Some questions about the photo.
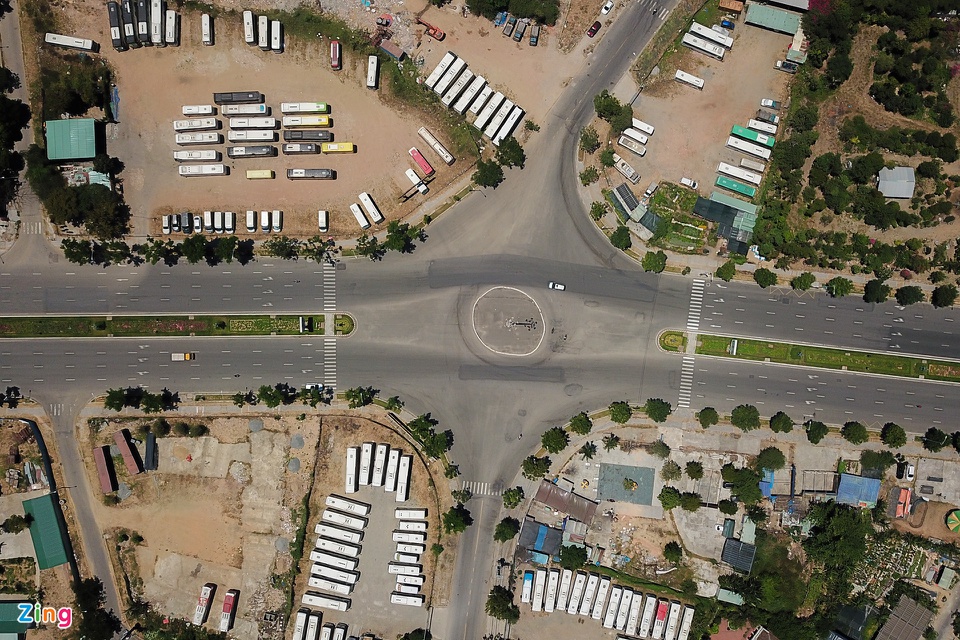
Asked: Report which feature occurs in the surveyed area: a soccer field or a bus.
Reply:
bus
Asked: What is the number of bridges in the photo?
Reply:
0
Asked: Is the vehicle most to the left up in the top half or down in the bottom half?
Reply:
top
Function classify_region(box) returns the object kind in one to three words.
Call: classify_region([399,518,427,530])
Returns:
vehicle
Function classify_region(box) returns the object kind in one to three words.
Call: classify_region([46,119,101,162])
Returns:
building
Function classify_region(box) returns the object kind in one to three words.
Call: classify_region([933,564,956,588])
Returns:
shed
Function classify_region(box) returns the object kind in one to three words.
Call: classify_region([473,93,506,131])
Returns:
bus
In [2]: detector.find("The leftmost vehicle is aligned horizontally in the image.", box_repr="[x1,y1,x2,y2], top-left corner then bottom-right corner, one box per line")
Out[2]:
[44,33,98,52]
